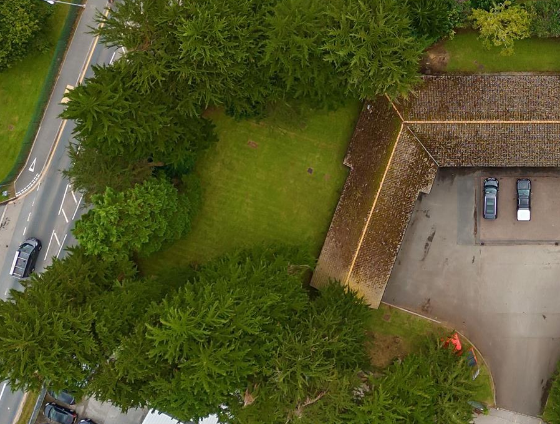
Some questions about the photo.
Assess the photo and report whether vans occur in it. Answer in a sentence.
Yes, looking at the shot, I can spot a van.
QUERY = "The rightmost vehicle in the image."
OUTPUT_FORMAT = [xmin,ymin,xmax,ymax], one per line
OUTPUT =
[514,178,532,220]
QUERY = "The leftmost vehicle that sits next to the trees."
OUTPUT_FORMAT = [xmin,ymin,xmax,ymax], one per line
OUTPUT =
[6,237,44,280]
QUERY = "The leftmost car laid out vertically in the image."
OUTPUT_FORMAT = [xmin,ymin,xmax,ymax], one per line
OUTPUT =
[482,177,499,219]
